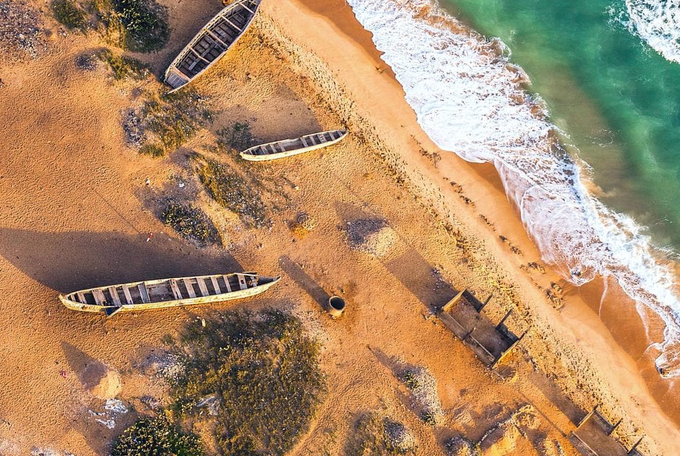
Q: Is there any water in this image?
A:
Yes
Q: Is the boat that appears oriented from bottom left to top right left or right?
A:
left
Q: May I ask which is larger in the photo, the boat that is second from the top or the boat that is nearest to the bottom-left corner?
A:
the boat that is nearest to the bottom-left corner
